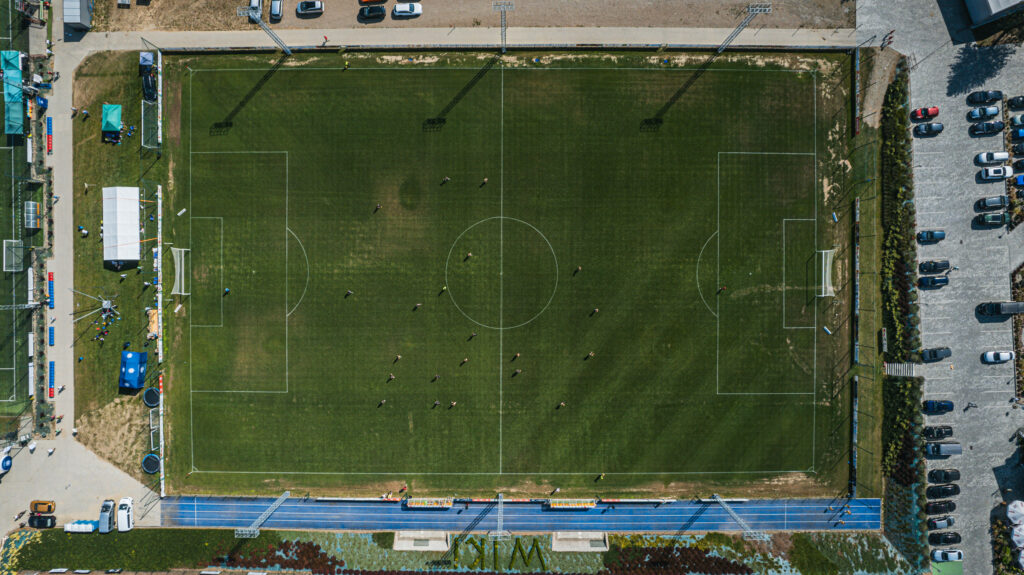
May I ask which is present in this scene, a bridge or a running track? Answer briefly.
running track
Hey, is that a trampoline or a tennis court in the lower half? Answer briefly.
trampoline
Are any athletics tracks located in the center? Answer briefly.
No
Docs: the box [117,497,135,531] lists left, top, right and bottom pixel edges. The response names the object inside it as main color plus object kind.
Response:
white vehicle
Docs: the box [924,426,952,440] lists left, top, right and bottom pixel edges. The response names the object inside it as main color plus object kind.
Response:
black car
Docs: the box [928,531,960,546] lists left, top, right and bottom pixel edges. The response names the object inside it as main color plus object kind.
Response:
black car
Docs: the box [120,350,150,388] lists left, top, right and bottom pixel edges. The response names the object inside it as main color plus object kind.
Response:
blue gazebo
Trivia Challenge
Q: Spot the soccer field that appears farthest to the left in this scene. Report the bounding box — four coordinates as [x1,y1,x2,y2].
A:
[0,0,33,441]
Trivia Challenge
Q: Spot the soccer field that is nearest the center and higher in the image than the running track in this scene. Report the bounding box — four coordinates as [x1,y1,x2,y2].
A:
[160,47,857,498]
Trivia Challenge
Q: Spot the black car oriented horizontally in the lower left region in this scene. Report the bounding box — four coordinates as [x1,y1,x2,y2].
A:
[27,514,58,529]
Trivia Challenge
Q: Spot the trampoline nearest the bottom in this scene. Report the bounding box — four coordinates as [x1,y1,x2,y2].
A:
[142,454,161,475]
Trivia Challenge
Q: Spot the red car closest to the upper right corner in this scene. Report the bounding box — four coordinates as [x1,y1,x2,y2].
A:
[912,106,939,120]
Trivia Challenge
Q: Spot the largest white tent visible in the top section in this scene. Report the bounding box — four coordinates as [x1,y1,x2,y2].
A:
[103,186,159,262]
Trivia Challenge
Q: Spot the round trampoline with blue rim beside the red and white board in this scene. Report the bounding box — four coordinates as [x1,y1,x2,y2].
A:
[139,388,160,407]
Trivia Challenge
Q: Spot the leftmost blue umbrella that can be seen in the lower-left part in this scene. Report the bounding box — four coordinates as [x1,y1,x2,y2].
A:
[1,457,19,470]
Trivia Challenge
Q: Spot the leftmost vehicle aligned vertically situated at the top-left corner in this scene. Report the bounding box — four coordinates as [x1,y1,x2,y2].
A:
[142,75,158,104]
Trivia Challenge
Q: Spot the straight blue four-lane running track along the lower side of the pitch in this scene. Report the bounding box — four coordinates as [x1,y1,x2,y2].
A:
[161,497,882,531]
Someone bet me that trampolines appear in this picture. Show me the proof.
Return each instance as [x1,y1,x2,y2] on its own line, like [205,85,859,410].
[139,388,160,407]
[142,454,161,475]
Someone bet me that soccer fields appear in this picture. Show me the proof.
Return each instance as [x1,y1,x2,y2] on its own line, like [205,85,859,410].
[0,0,33,441]
[160,47,857,498]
